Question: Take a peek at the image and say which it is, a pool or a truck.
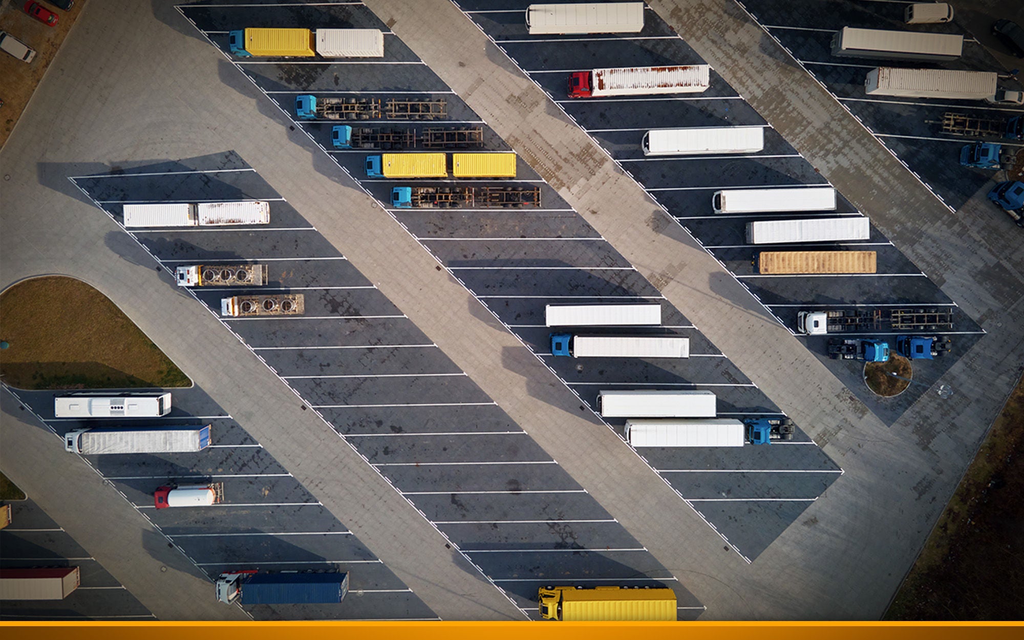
truck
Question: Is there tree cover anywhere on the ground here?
No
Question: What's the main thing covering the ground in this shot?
paved ground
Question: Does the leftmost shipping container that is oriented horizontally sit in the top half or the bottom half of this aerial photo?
bottom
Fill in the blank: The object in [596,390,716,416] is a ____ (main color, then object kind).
white trailer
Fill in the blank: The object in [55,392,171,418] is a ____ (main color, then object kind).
white bus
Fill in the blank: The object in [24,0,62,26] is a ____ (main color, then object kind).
red car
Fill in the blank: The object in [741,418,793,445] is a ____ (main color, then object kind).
blue truck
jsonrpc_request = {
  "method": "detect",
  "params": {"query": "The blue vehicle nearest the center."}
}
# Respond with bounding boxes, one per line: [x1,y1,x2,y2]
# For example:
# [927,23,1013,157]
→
[551,334,574,357]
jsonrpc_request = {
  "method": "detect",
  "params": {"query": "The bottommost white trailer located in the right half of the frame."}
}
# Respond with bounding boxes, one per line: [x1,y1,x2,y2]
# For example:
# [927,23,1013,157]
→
[625,418,743,446]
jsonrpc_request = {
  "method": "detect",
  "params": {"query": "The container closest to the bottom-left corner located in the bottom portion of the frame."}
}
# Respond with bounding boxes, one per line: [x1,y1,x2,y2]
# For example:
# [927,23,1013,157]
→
[0,568,77,600]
